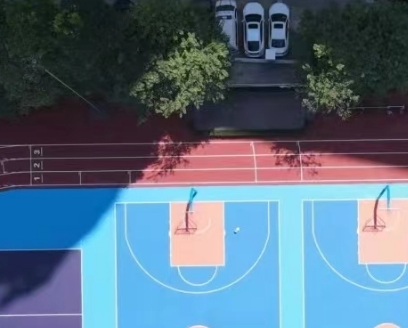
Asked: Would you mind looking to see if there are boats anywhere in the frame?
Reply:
No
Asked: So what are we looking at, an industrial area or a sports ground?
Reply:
sports ground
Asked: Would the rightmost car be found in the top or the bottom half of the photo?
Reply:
top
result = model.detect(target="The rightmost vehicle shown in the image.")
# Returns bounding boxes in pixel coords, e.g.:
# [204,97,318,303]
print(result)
[266,4,291,58]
